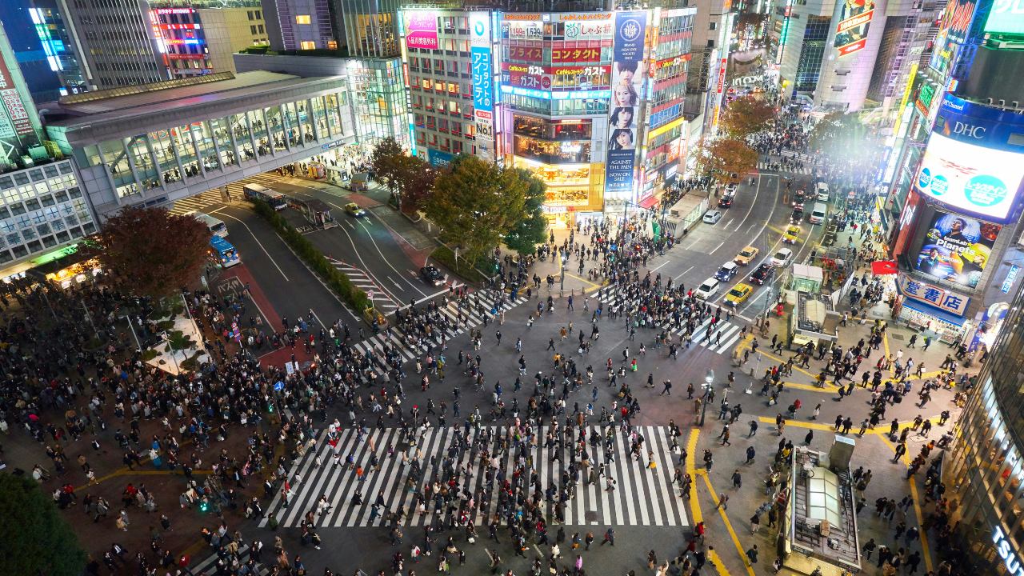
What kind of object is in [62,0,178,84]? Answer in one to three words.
building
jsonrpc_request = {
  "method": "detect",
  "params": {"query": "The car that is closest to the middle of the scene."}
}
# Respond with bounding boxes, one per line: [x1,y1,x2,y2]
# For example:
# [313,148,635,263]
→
[419,260,446,282]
